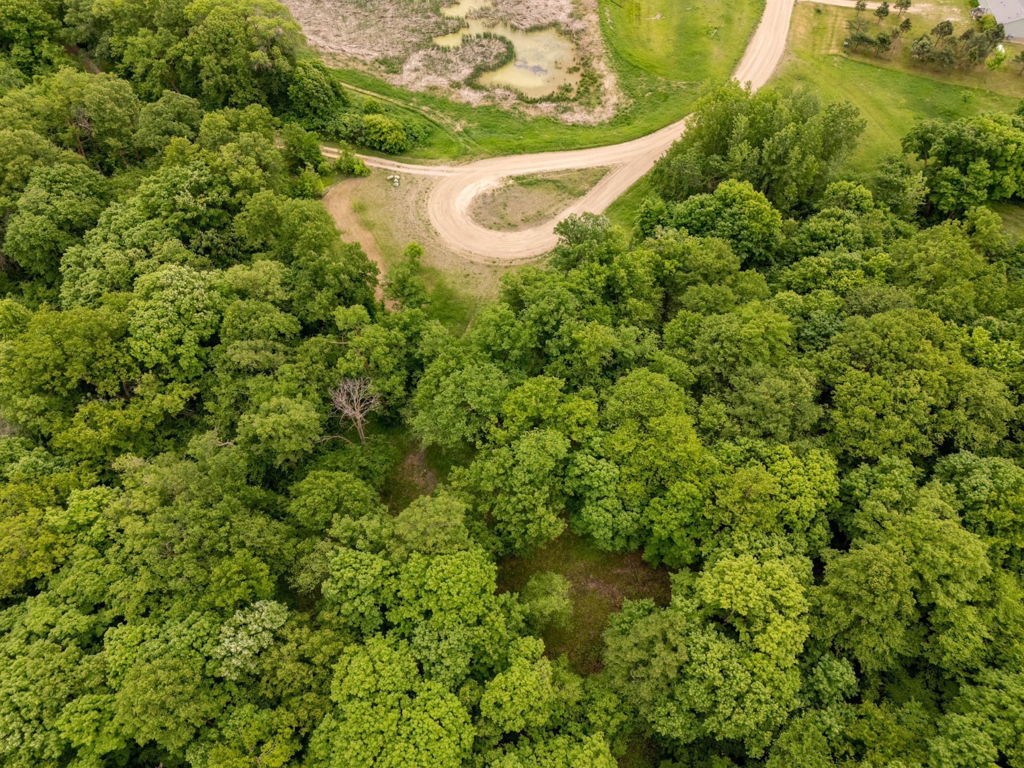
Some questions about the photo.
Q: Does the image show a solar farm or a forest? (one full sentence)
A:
What you see here is a forest.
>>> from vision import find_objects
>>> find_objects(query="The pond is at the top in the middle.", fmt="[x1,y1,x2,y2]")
[433,0,585,99]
